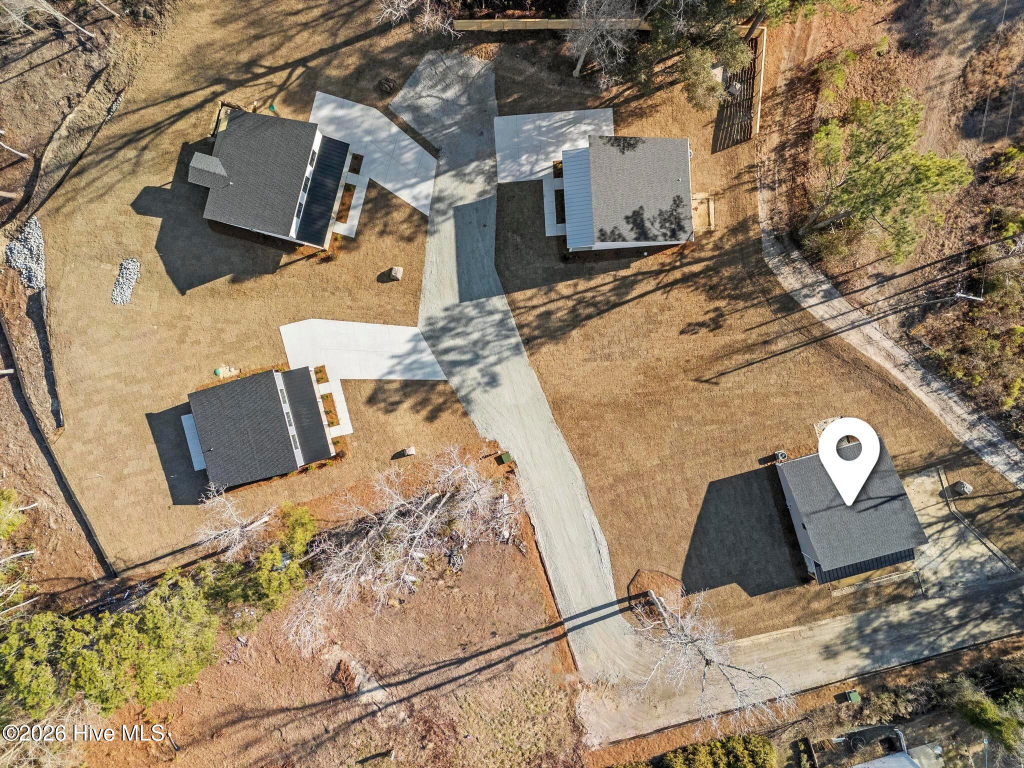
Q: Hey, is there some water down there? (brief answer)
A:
No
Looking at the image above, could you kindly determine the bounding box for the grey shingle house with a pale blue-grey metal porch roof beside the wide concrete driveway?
[564,134,698,255]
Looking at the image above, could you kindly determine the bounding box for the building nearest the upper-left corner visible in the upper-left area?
[187,109,351,252]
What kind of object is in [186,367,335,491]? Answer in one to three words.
house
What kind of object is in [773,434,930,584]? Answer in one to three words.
house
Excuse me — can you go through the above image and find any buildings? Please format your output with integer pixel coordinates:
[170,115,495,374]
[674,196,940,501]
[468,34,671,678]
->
[835,739,919,768]
[773,434,930,584]
[564,134,698,255]
[186,367,335,491]
[187,109,351,252]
